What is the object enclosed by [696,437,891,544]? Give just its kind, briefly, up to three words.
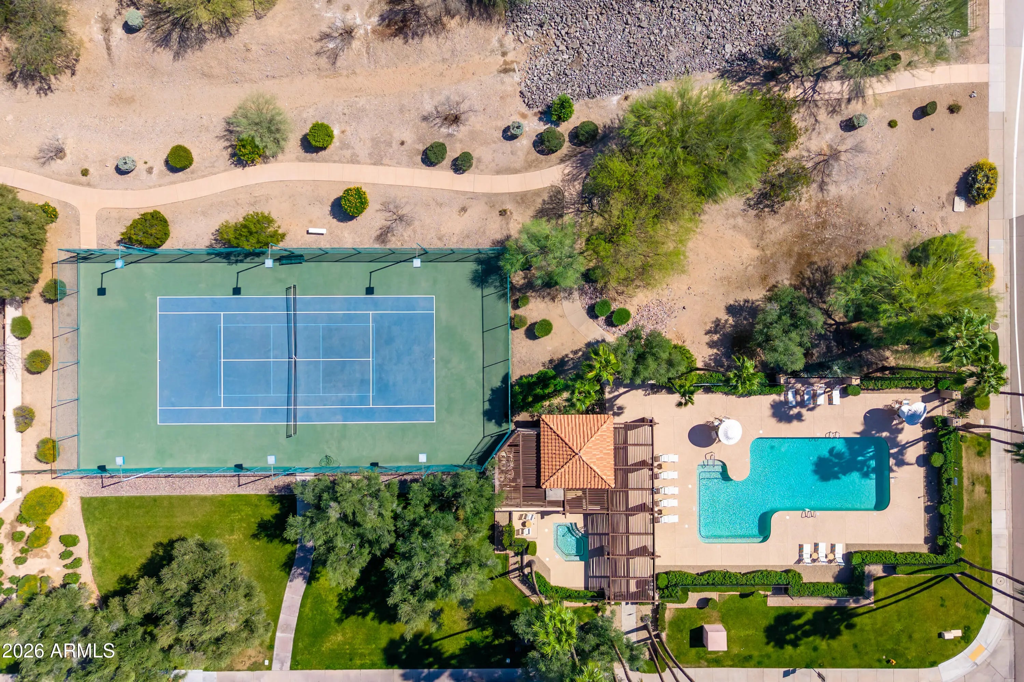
swimming pool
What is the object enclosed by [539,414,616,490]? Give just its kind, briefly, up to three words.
building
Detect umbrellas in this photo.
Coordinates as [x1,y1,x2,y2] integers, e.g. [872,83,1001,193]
[716,417,743,446]
[901,400,928,428]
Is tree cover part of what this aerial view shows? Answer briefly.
Yes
